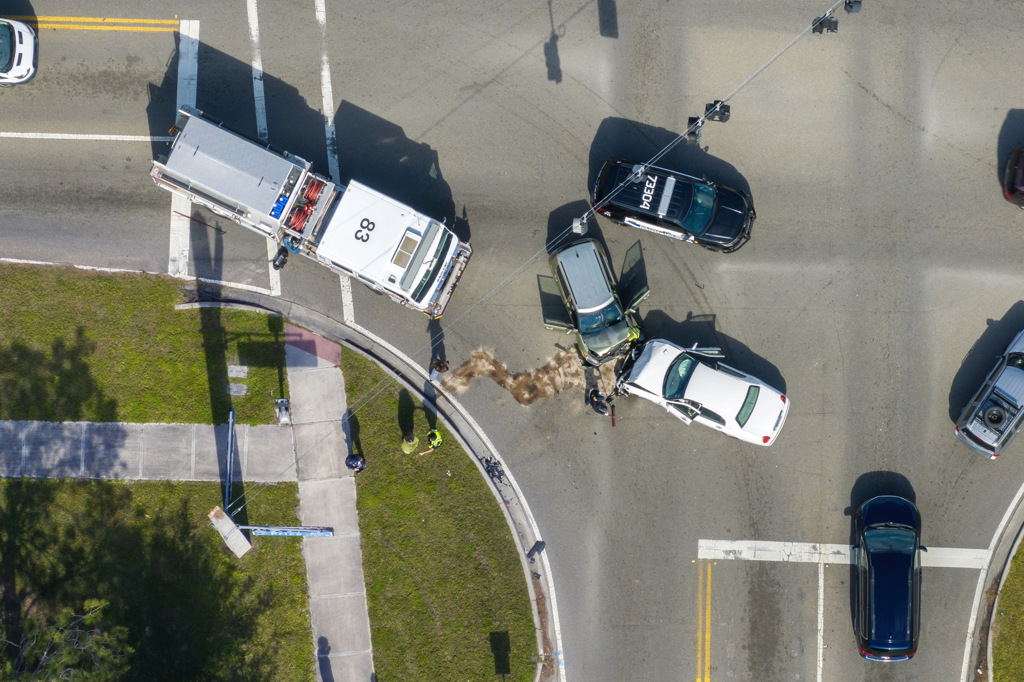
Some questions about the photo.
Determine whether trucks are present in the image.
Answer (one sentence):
Yes, the photo shows a truck.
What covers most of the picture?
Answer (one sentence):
The bulk of the photo consists of paved ground.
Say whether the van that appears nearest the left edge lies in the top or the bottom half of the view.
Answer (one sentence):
The van that appears nearest the left edge is in the top half of the image.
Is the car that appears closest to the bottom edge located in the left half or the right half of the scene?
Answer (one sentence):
The car that appears closest to the bottom edge is on the right side of the image.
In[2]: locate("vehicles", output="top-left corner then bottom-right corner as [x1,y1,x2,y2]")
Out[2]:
[852,494,925,662]
[997,148,1024,213]
[619,335,793,445]
[148,104,474,320]
[590,155,757,256]
[0,9,40,85]
[536,233,646,376]
[953,316,1024,461]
